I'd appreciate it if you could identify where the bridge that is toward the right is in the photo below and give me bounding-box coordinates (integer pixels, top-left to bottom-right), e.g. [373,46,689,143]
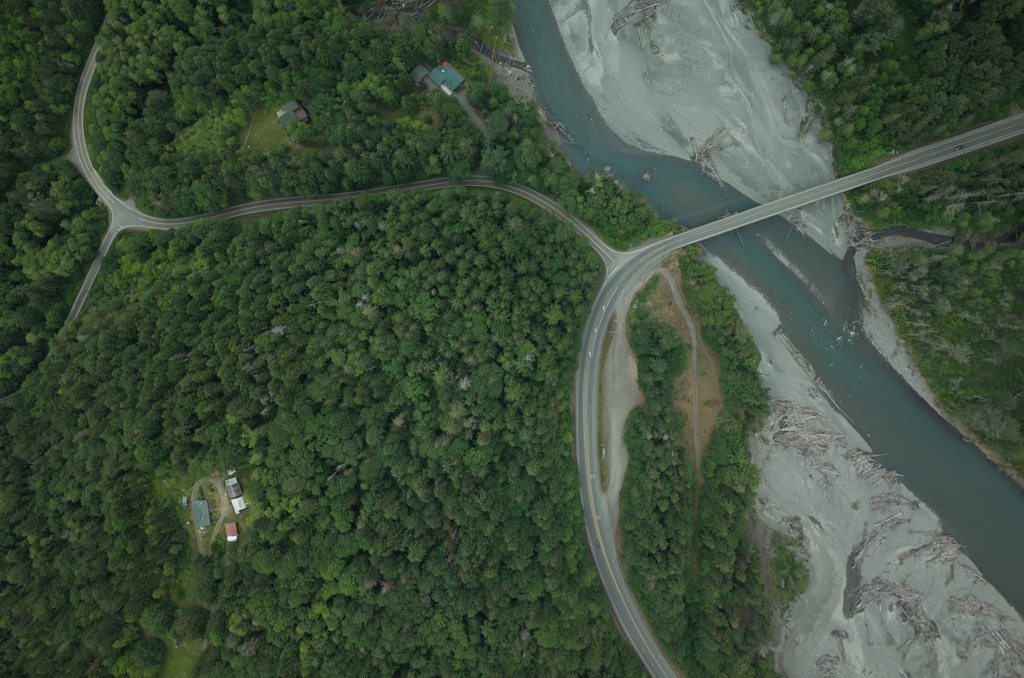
[672,174,850,251]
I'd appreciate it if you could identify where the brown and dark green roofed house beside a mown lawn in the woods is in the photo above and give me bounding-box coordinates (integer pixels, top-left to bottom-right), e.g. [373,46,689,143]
[277,99,309,129]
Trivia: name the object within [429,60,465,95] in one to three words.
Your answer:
house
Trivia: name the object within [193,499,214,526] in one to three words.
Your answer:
house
